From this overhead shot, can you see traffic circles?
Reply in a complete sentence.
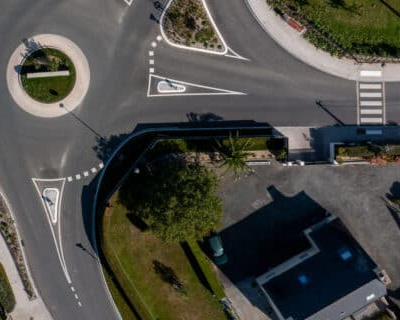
Yes, looking at the shot, I can spot a traffic circle.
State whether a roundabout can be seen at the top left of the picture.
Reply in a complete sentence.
Yes, at the top left of the picture there is a roundabout.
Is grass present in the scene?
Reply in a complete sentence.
Yes, some grass is visible.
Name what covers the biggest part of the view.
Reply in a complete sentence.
The bulk of the photo consists of paved ground.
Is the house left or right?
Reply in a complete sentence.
It is on the right.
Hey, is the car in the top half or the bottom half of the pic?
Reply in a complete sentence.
Seen from above, the car lies in the bottom half of the view.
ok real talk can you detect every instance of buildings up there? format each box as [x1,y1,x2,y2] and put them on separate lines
[255,213,386,320]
